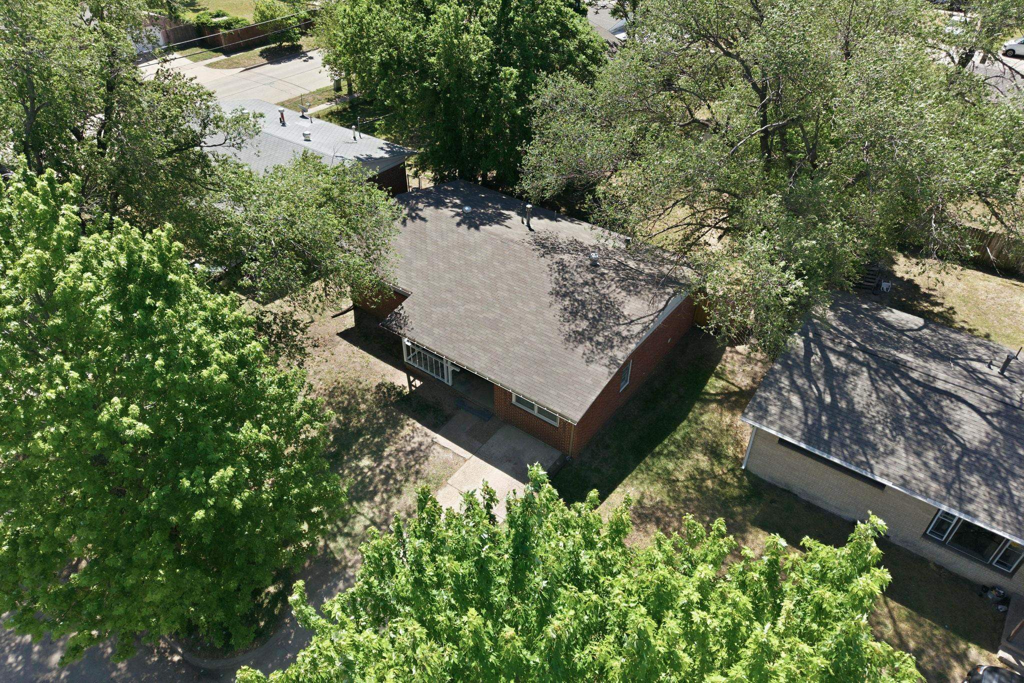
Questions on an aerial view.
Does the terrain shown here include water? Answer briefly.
No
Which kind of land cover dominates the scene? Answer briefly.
trees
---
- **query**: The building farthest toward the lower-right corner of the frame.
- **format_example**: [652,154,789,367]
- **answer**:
[737,286,1024,593]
